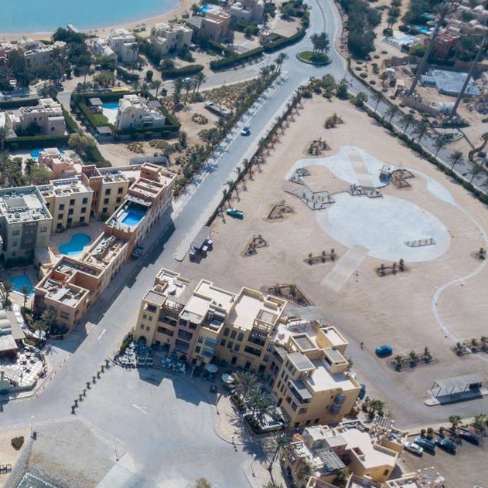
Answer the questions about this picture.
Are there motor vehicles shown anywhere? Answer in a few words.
Yes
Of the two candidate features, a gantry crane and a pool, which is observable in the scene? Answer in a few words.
pool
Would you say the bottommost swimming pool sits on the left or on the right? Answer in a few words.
left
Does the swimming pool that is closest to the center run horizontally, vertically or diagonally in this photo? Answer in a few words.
diagonally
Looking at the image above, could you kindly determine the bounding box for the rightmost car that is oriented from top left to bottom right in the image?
[458,426,483,445]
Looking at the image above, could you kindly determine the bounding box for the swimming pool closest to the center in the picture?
[122,205,148,228]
